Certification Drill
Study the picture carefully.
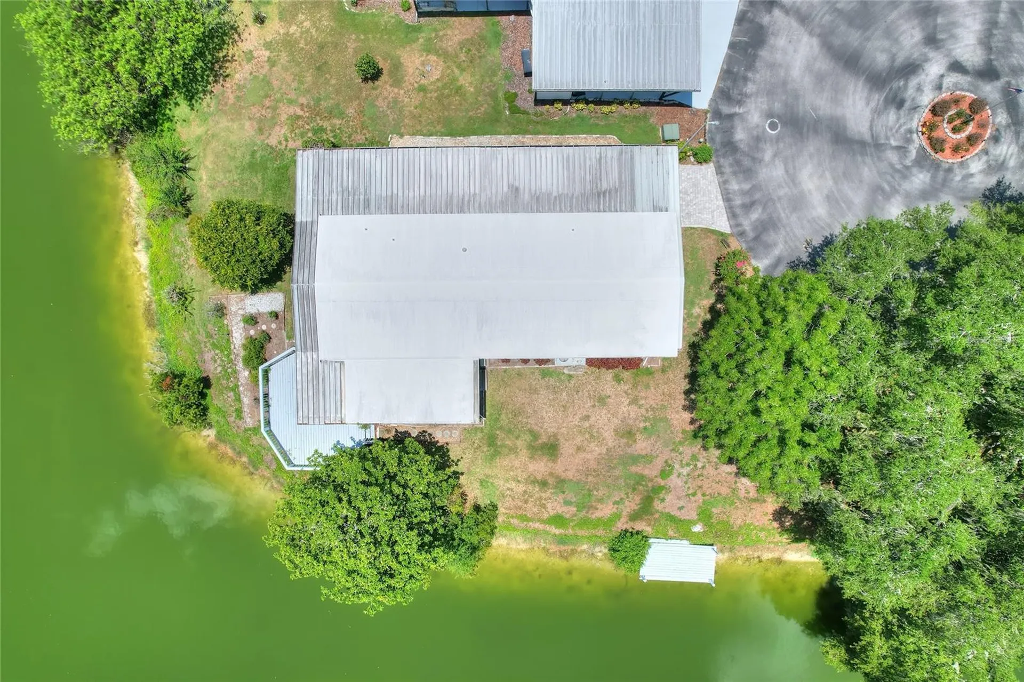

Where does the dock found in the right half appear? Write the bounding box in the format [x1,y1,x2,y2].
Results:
[639,538,718,587]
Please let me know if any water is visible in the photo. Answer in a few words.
Yes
